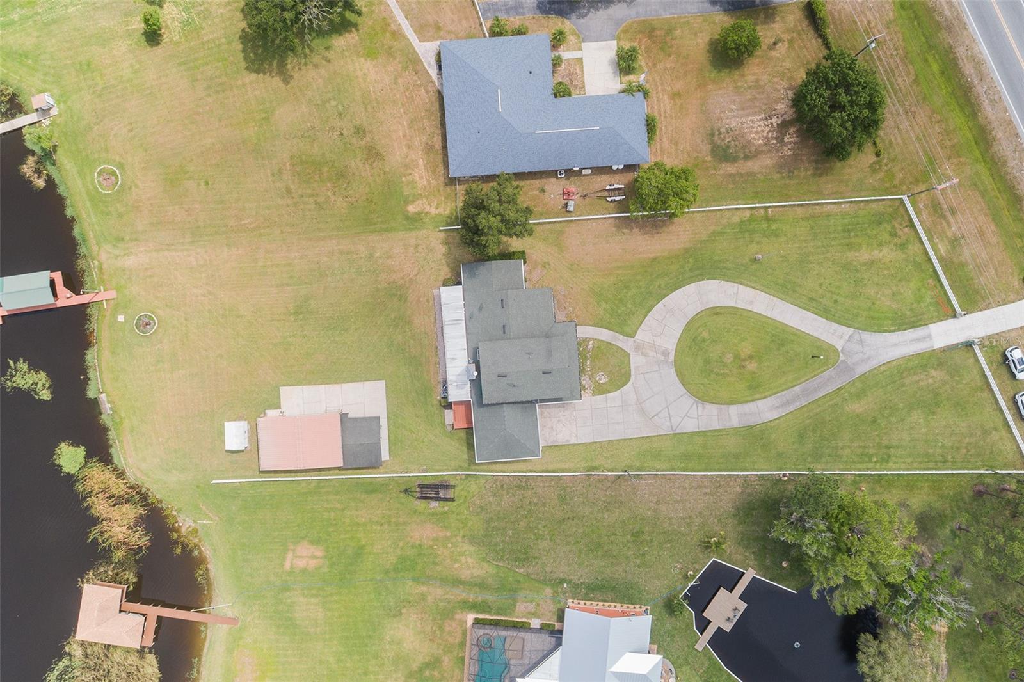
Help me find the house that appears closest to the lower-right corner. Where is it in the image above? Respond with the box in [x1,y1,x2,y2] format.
[515,607,662,682]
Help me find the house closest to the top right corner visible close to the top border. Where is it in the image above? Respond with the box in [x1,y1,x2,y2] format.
[439,33,650,178]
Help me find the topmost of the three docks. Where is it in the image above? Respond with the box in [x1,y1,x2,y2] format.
[0,110,58,136]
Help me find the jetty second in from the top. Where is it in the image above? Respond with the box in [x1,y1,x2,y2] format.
[0,271,117,325]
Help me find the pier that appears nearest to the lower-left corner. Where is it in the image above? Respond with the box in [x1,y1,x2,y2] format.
[100,582,238,647]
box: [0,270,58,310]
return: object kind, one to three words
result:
building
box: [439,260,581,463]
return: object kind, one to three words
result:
building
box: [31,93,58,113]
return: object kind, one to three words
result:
shed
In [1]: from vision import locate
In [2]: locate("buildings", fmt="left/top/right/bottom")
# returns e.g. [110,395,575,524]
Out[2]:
[439,260,581,463]
[225,420,253,451]
[0,270,58,310]
[515,607,662,682]
[31,93,58,113]
[76,583,148,649]
[257,413,383,472]
[439,33,650,178]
